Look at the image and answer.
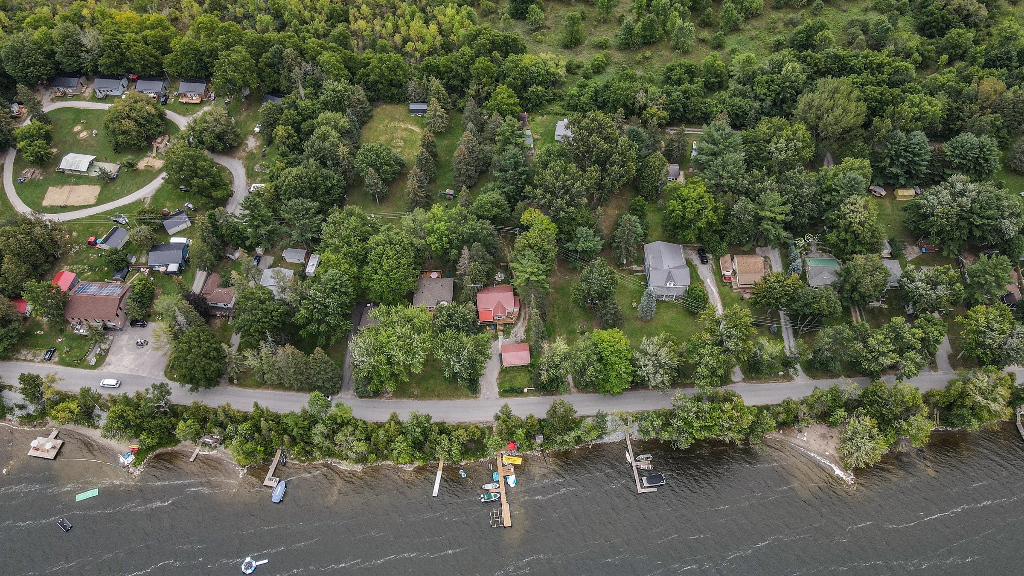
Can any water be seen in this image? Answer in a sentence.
Yes, there is water in the image.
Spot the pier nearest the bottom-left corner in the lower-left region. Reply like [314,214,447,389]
[27,429,63,459]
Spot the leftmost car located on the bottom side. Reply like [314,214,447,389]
[44,346,57,362]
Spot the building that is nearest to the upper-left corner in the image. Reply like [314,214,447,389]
[51,74,90,94]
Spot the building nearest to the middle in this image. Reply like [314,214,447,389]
[476,282,520,321]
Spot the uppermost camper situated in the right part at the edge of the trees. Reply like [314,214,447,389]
[869,184,887,196]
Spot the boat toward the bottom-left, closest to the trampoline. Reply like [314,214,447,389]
[271,481,288,505]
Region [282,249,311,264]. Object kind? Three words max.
shed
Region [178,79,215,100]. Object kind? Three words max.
house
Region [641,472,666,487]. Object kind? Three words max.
boat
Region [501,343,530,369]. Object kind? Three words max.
building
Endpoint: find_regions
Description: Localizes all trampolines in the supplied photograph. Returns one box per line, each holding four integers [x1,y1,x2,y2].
[239,552,257,575]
